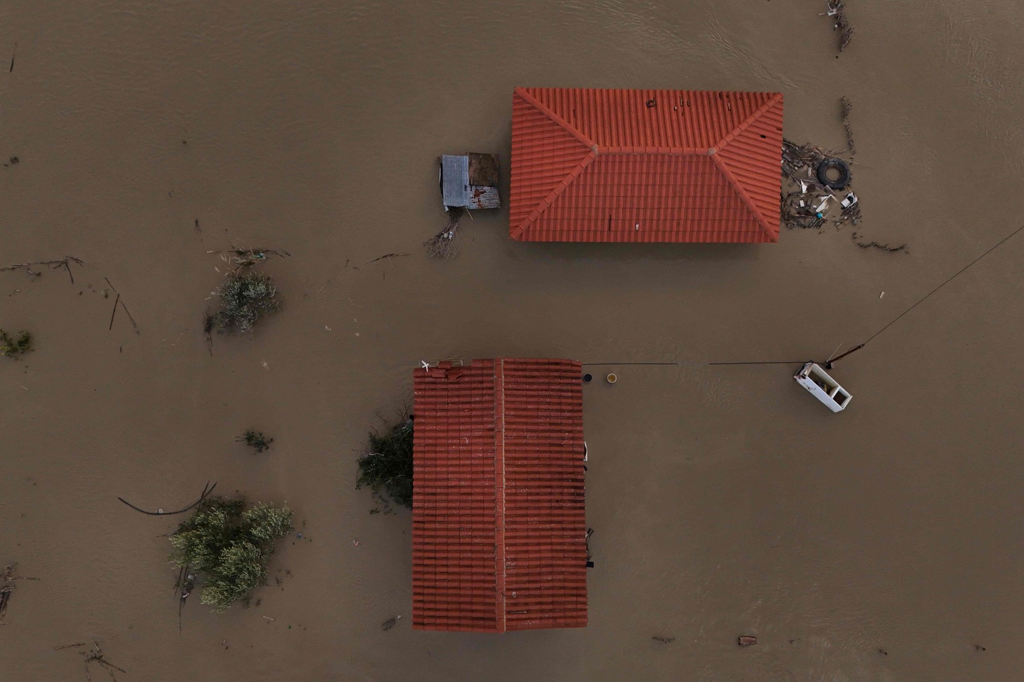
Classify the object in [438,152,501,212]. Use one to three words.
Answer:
shed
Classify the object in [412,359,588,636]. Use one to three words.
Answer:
house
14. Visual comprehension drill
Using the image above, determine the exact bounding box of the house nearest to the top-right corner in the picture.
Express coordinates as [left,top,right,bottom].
[508,86,785,243]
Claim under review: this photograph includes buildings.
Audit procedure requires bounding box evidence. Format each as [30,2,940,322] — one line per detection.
[412,359,588,636]
[508,86,785,243]
[438,152,501,212]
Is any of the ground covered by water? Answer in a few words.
Yes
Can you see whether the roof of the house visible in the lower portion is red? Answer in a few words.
Yes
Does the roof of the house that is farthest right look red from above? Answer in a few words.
Yes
